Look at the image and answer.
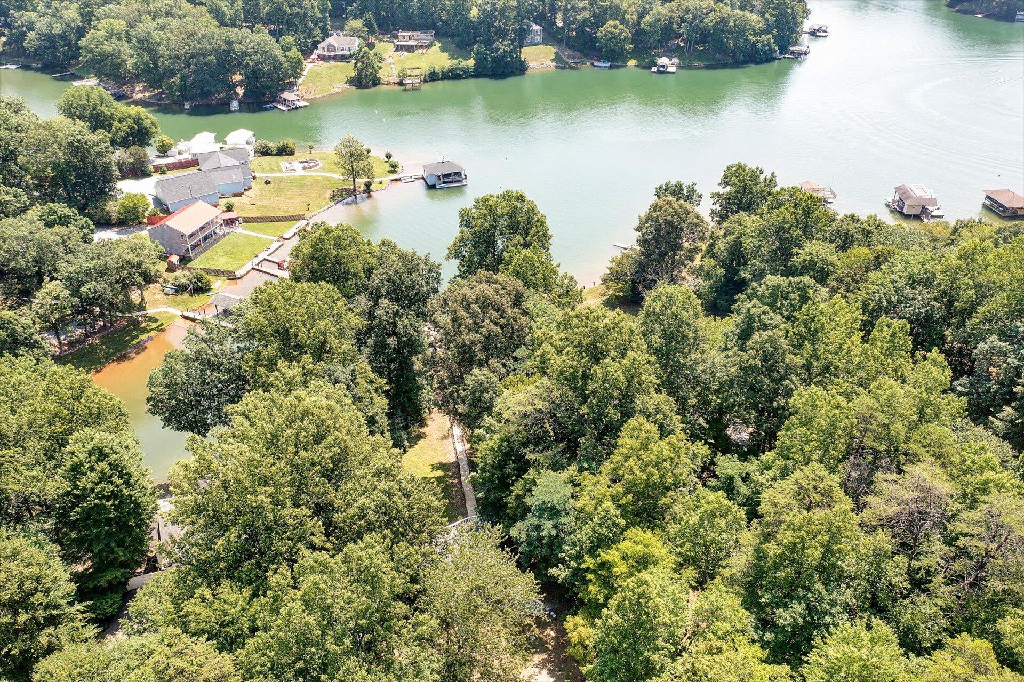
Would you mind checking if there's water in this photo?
Yes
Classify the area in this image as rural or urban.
rural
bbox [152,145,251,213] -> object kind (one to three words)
house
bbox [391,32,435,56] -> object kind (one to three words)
house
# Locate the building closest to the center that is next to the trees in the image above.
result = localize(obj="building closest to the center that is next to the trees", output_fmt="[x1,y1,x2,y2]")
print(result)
[426,154,469,188]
